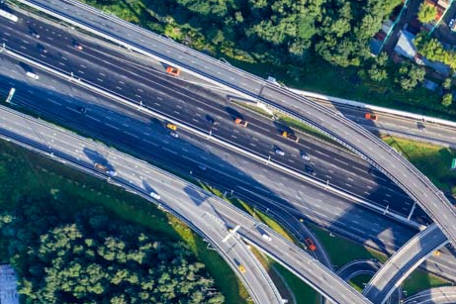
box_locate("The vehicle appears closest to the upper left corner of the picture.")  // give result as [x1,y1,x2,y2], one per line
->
[0,7,22,21]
